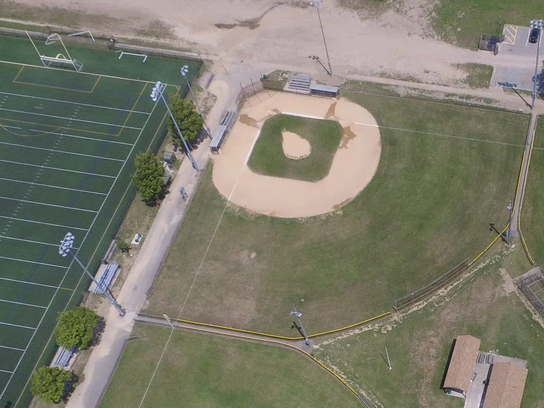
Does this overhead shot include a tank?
No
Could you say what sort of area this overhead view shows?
sports ground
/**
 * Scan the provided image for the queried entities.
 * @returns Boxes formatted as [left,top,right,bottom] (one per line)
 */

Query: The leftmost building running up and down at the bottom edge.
[443,336,480,398]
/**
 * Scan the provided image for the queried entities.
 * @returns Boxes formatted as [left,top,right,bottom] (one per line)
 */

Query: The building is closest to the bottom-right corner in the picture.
[483,362,526,408]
